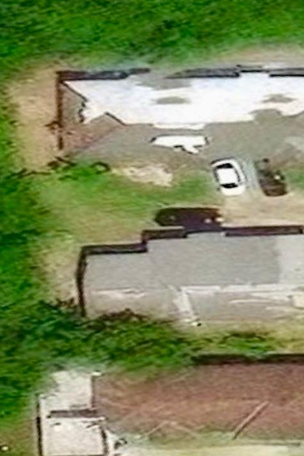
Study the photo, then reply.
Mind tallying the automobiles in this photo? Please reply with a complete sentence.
The photo contains 3 automobiles.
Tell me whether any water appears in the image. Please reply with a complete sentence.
No, there's no water in this view.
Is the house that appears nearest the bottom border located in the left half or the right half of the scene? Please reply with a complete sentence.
The house that appears nearest the bottom border appears in the right half of the scene.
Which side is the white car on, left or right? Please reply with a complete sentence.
The white car sits on the right side.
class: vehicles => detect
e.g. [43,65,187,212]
[212,157,246,199]
[256,160,287,200]
[156,206,222,230]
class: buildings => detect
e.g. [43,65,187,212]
[85,231,304,324]
[62,74,304,160]
[94,364,304,444]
